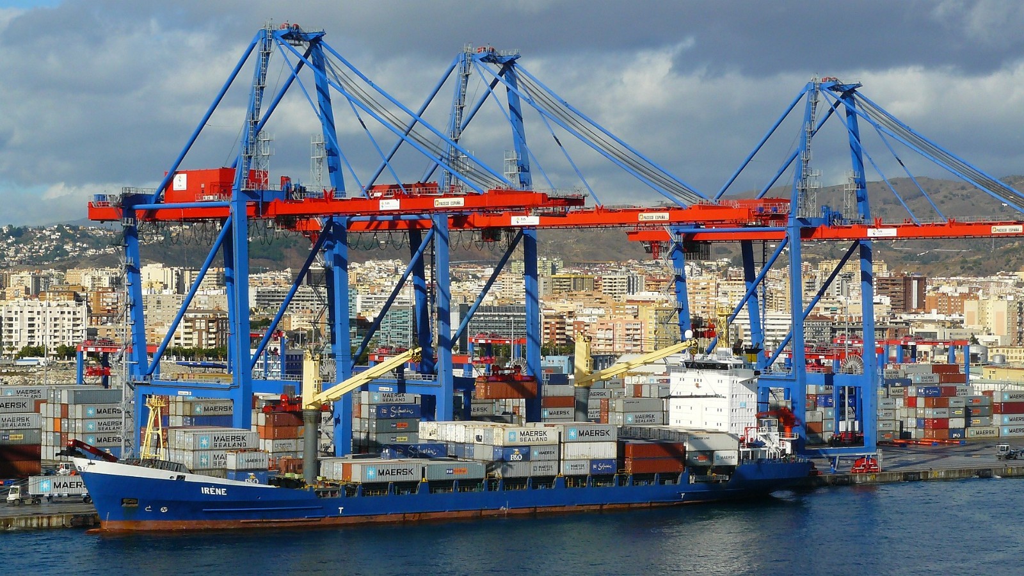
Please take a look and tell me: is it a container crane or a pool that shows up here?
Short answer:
container crane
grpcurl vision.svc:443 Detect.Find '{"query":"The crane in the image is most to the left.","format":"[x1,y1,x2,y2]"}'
[77,338,198,438]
